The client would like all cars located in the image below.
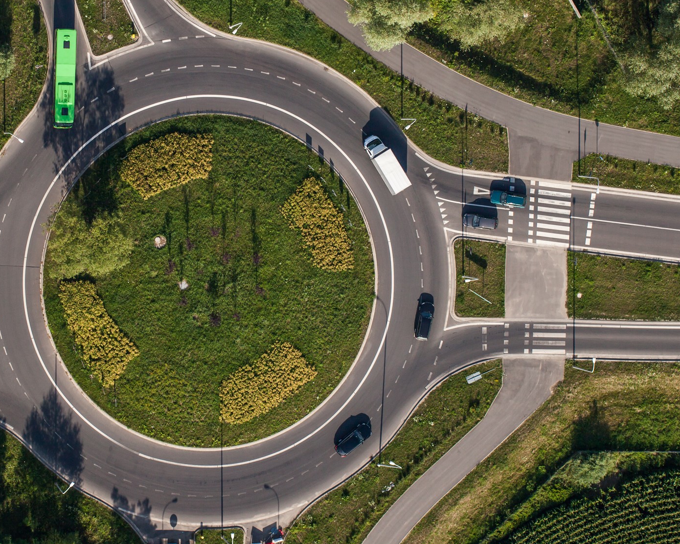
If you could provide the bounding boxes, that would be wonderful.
[463,213,498,231]
[335,423,372,453]
[490,188,527,207]
[415,301,436,341]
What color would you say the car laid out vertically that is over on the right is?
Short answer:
black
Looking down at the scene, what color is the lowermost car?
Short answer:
black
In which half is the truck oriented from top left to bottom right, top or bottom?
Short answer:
top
